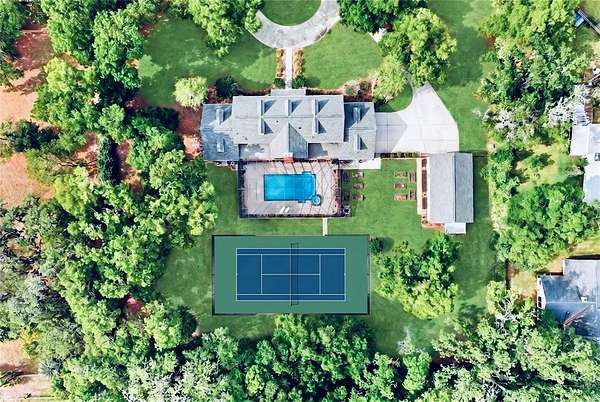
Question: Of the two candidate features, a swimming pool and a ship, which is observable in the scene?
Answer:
swimming pool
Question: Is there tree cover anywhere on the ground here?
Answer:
Yes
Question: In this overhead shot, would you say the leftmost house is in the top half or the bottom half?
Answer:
top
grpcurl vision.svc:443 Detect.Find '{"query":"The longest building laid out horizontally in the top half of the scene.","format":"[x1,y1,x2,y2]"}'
[199,89,379,164]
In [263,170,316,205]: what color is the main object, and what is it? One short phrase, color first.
blue swimming pool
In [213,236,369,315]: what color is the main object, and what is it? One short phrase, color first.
green tennis court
